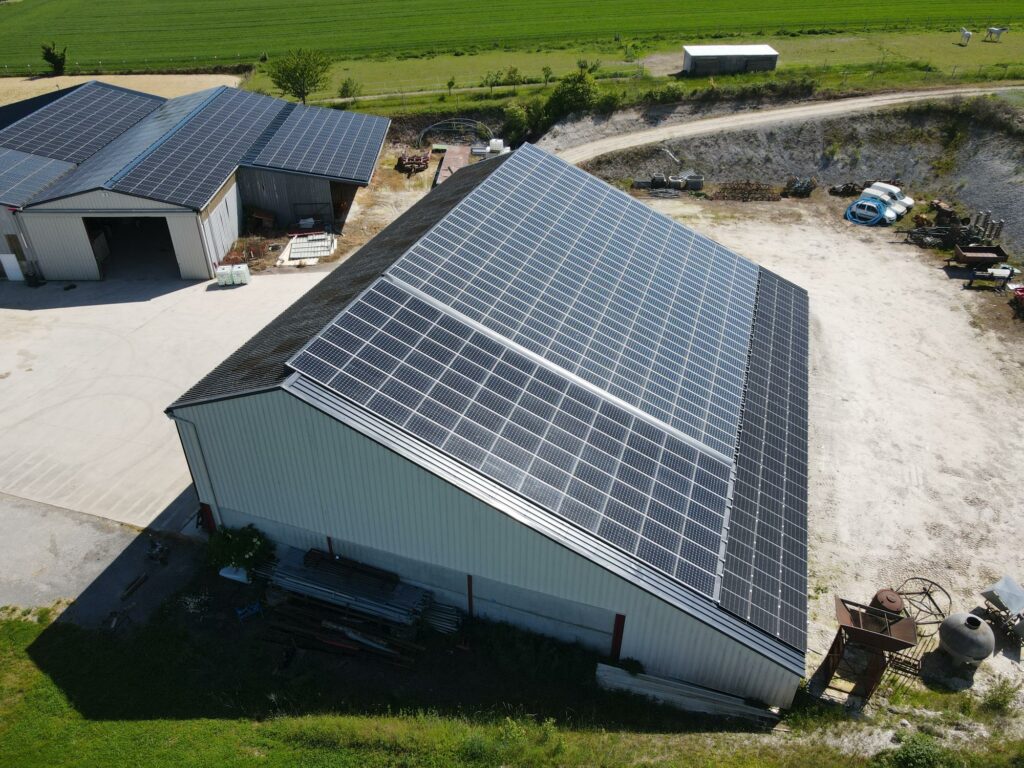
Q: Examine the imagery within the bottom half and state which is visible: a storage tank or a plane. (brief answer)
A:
storage tank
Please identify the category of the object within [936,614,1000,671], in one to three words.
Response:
storage tank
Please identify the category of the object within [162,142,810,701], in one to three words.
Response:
barn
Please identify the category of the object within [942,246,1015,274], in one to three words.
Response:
trailer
